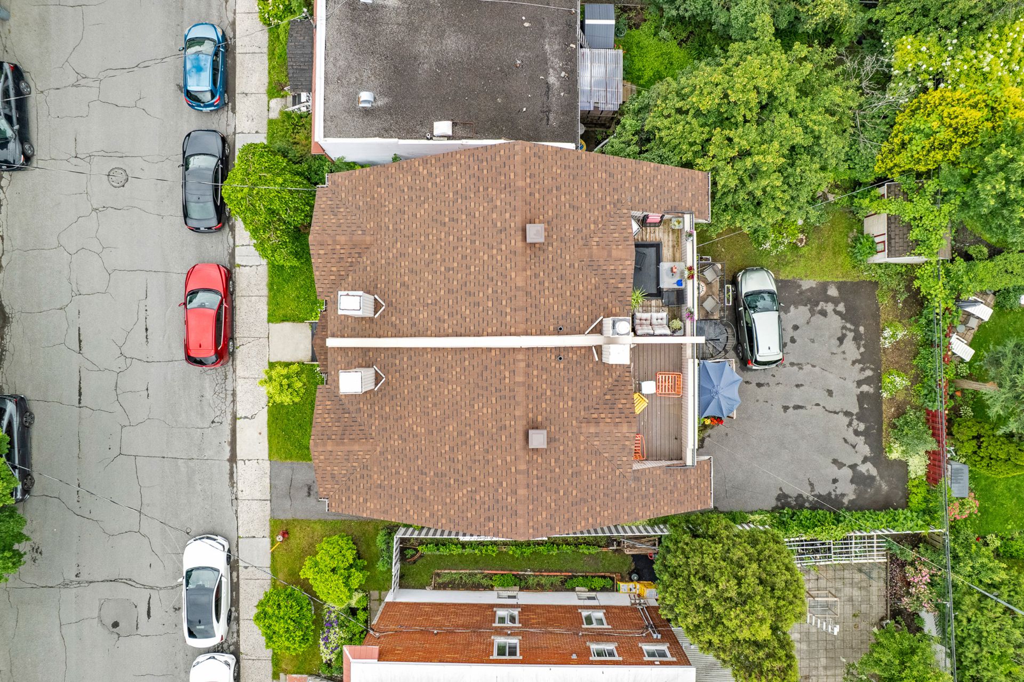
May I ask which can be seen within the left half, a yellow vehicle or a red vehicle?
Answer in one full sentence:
It is a red vehicle that can be seen within the left half.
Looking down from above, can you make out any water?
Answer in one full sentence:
No, no water is visible.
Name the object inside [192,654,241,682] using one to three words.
car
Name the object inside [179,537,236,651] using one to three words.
car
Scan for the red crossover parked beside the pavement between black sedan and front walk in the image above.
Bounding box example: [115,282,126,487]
[178,262,237,369]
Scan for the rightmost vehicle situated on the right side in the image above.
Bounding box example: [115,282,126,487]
[728,265,784,370]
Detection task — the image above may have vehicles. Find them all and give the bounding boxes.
[178,20,234,112]
[179,537,236,651]
[728,265,784,370]
[0,395,38,500]
[0,61,38,168]
[179,127,235,233]
[178,262,237,369]
[192,654,241,682]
